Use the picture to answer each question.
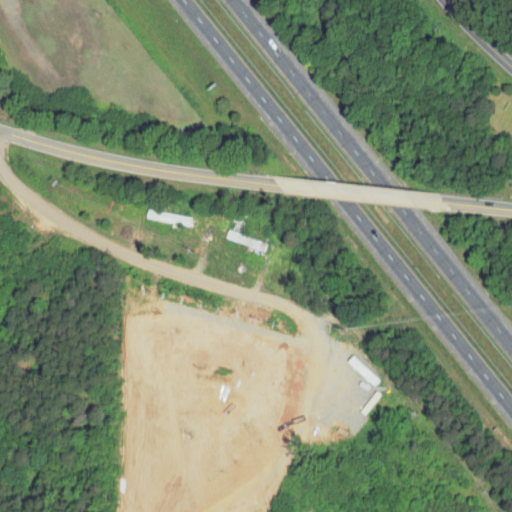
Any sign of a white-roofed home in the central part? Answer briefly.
Yes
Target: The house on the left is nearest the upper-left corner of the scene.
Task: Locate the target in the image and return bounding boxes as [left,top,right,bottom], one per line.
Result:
[146,208,194,228]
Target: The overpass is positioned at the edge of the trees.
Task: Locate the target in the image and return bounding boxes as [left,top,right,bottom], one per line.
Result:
[272,176,442,212]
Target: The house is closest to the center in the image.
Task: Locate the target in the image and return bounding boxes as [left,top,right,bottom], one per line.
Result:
[226,218,268,252]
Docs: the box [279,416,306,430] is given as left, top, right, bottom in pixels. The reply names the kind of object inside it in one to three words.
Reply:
vehicle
